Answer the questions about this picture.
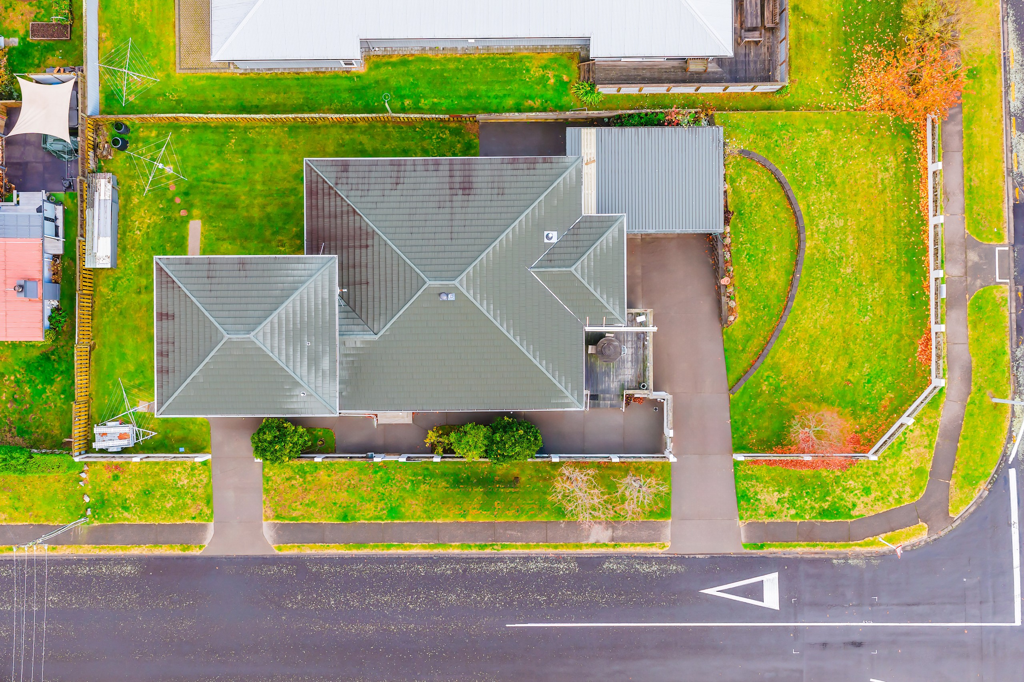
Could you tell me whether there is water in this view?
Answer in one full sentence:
No, there is no water in the image.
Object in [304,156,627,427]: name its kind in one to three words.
house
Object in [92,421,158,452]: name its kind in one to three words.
trailer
